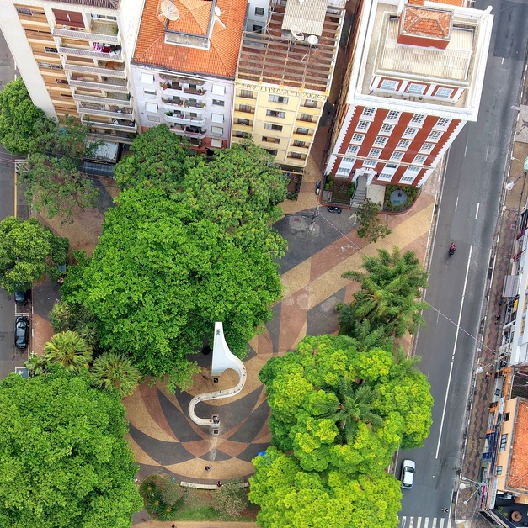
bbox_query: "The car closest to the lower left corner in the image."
[12,314,30,349]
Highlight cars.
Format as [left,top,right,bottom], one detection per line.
[14,286,28,310]
[399,458,416,490]
[12,314,30,349]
